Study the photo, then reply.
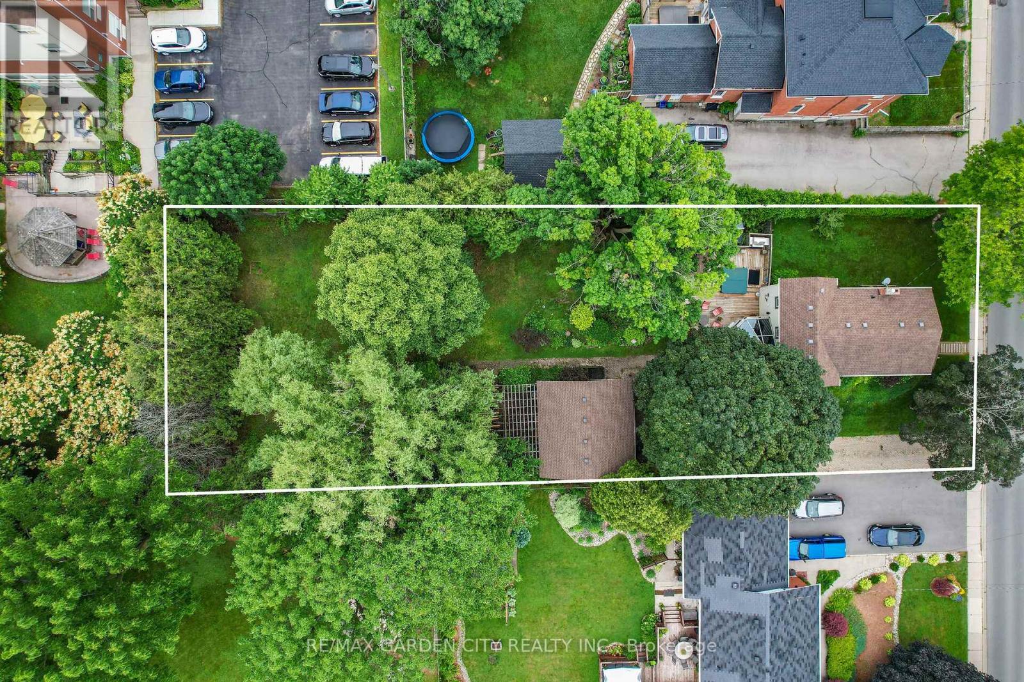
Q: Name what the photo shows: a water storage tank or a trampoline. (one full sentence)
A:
The one in the frame is a trampoline.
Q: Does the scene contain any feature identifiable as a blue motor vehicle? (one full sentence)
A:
Yes, a blue motor vehicle is visible in the scene.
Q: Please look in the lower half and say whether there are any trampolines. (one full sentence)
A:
No, no trampoline can be made out in the lower half.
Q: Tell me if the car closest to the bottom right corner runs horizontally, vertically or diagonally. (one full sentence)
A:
From this overhead view, the car closest to the bottom right corner appears to run horizontally.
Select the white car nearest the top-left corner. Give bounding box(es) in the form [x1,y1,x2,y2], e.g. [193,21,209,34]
[150,27,211,59]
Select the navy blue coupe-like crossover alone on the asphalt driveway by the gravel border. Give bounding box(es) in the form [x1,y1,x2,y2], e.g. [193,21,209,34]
[862,521,926,552]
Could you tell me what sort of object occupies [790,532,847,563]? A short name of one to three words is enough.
truck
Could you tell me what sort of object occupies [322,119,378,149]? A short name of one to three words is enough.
car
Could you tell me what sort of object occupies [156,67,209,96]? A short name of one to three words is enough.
car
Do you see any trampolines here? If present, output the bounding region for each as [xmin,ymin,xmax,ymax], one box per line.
[422,110,476,164]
